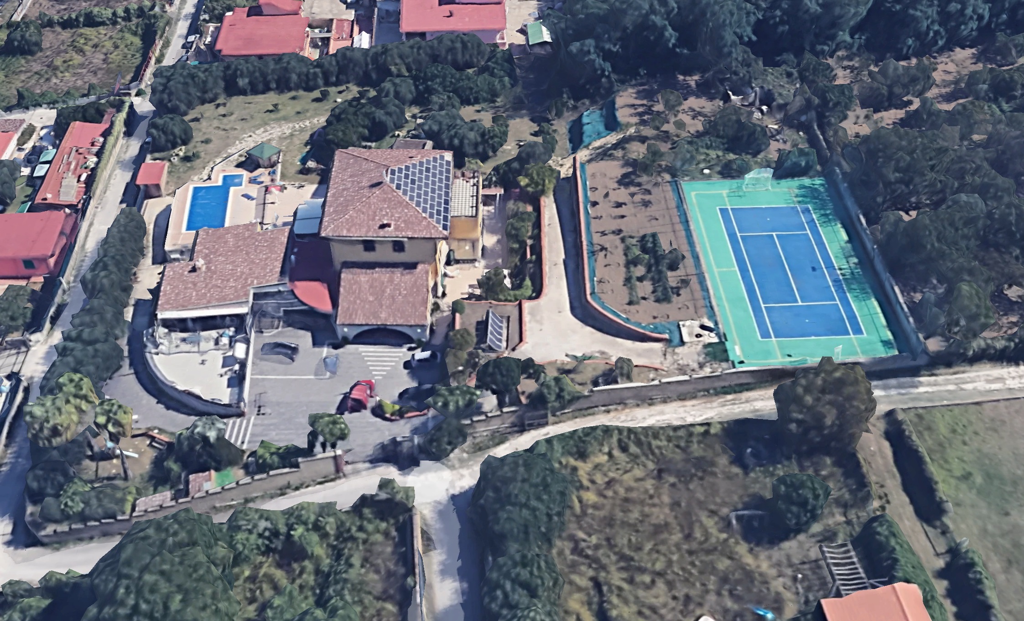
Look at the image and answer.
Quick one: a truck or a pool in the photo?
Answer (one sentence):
Of the two, only a pool appears.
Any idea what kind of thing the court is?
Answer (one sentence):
What you see as the court is a tennis court.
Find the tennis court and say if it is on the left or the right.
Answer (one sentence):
You can find the tennis court on the right side of the picture.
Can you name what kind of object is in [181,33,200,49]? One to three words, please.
car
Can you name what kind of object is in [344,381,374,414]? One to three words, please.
car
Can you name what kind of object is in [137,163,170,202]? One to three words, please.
shed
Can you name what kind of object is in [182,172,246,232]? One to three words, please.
swimming pool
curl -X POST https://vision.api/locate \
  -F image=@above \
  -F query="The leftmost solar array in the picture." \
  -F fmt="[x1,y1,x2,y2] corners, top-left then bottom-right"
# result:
[391,153,452,229]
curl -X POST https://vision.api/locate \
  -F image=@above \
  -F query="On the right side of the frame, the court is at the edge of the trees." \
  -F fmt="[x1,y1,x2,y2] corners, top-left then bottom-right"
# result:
[681,177,905,368]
